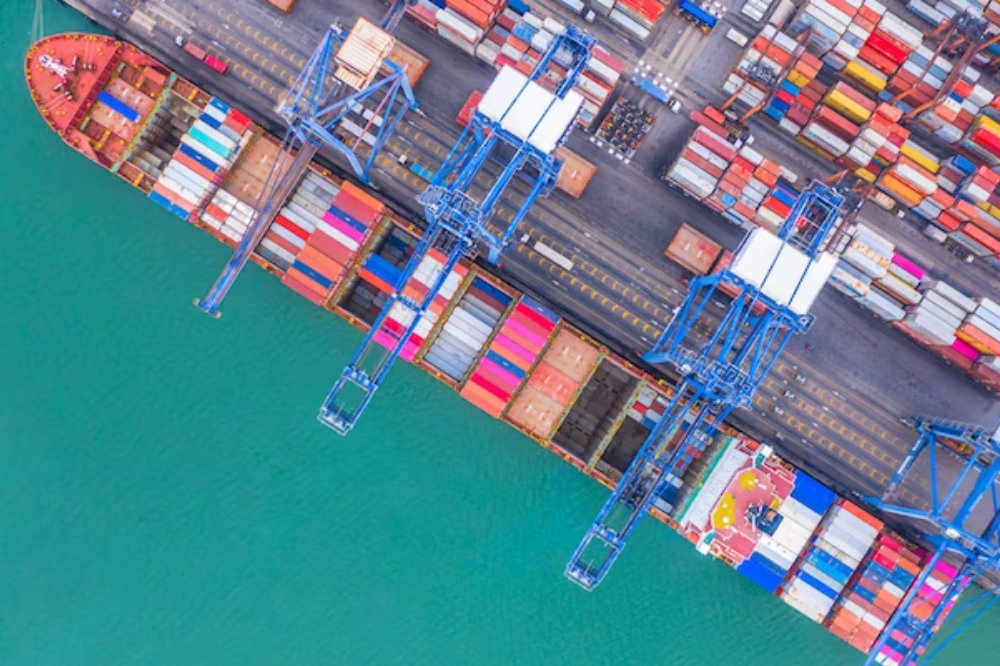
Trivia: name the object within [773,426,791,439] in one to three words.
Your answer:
vehicle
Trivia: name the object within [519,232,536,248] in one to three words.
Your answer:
vehicle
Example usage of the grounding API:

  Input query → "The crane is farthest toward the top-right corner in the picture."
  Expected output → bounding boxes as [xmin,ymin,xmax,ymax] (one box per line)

[890,8,991,125]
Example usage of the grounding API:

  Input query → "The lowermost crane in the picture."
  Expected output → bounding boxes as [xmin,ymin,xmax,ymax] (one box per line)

[849,399,1000,666]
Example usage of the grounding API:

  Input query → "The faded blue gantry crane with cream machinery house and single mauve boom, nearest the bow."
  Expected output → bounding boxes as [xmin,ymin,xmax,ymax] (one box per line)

[191,0,433,324]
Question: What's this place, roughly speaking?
port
